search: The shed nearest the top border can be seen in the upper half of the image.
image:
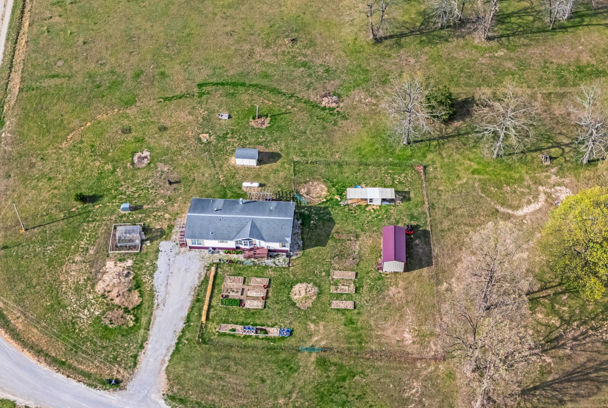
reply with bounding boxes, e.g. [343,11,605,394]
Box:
[234,146,259,166]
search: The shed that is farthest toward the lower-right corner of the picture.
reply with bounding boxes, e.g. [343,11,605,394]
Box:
[375,223,405,271]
